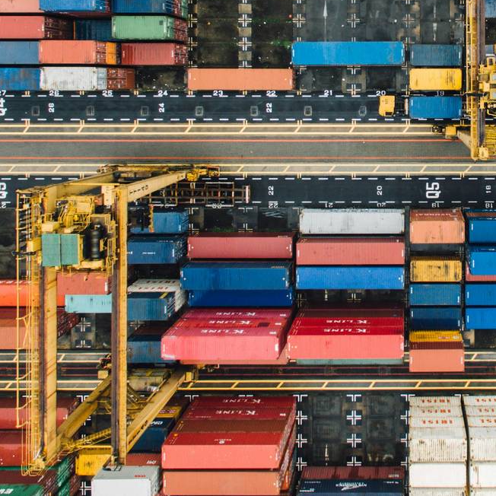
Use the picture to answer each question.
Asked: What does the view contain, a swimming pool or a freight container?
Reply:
freight container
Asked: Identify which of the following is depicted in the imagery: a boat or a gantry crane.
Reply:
gantry crane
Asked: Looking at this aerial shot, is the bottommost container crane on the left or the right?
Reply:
left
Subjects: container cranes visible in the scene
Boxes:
[428,0,496,171]
[1,157,219,477]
